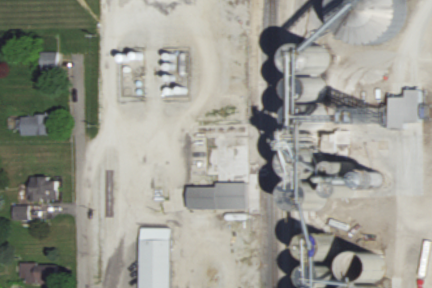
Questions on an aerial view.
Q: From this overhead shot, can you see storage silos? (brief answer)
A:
Yes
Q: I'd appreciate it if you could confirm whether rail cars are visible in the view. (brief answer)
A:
No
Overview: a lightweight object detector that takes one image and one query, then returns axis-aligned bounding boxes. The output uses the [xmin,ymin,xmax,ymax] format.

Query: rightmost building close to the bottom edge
[139,229,174,288]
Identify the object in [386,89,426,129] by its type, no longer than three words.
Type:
shed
